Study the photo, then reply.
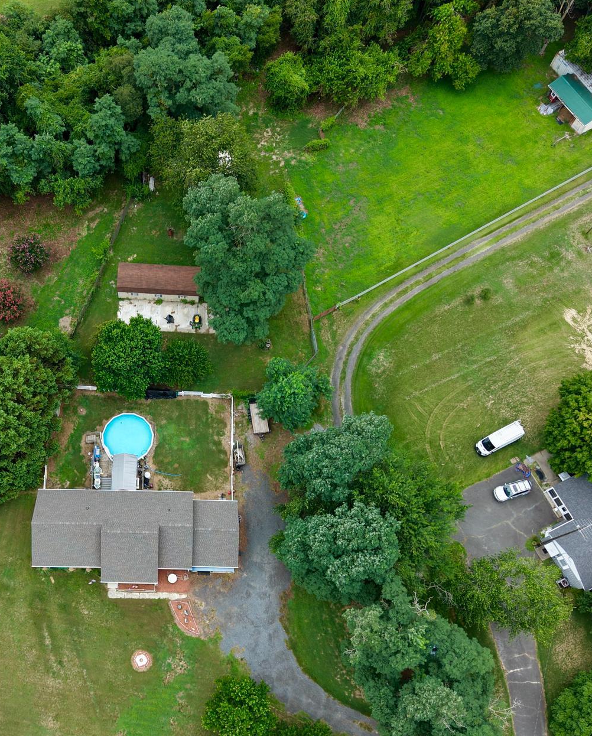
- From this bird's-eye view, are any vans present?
Yes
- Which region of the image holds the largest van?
right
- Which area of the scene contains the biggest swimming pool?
left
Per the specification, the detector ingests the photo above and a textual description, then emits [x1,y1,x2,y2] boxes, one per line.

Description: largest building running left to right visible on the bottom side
[32,489,239,586]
